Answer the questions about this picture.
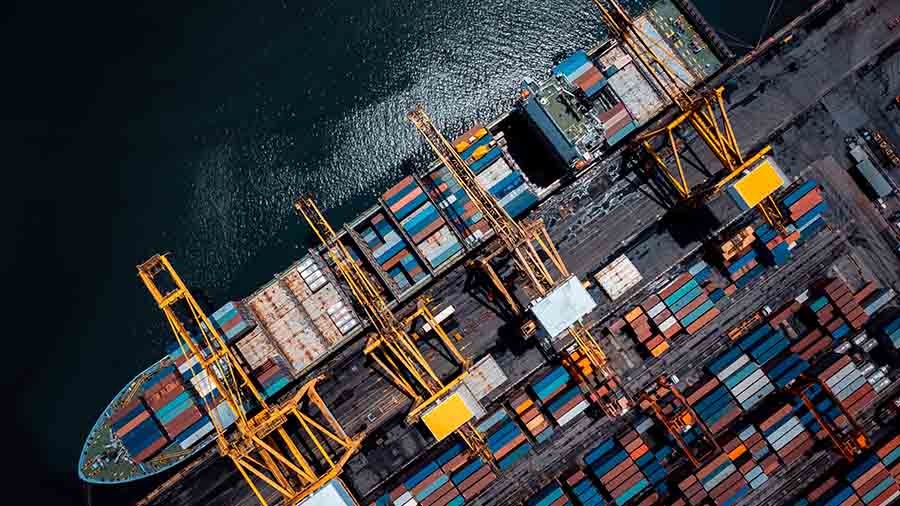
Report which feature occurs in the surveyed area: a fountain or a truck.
truck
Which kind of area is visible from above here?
port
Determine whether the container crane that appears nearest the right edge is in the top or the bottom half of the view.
bottom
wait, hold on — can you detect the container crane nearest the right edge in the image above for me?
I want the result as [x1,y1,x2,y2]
[785,372,875,461]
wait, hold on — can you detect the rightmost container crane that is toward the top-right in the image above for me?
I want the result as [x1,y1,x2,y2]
[593,0,788,239]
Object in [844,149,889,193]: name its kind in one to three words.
truck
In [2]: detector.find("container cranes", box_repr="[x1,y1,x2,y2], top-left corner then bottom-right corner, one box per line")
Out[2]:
[593,0,788,239]
[555,337,634,421]
[295,194,498,473]
[633,374,725,471]
[136,247,376,506]
[785,372,875,461]
[407,99,615,377]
